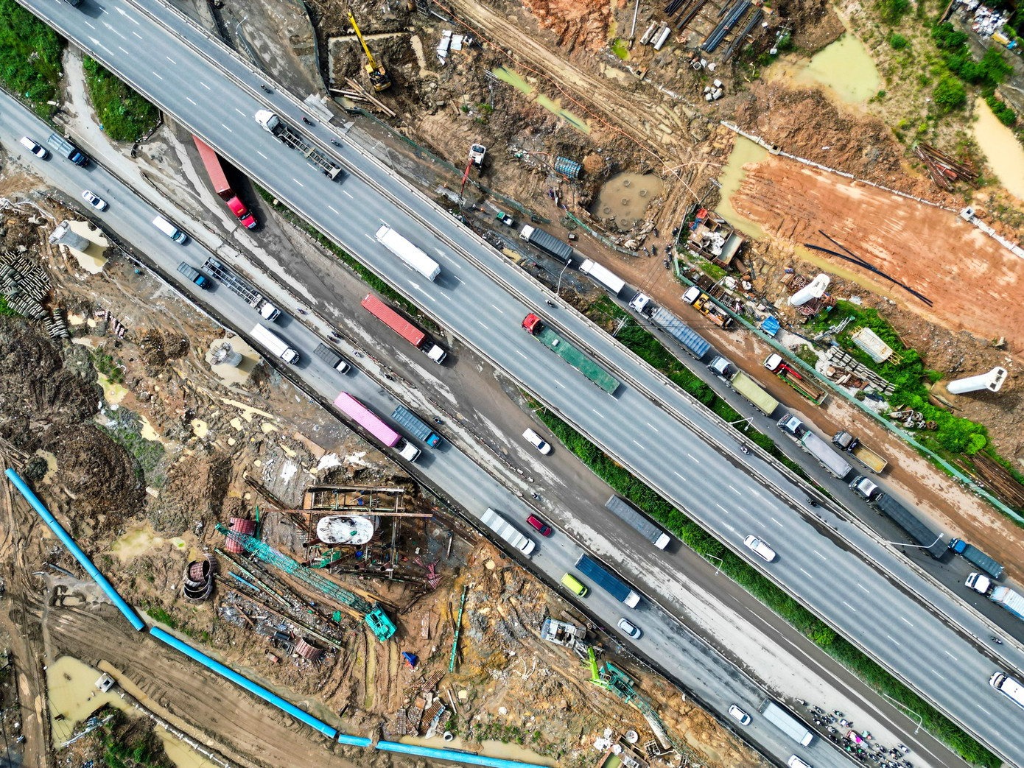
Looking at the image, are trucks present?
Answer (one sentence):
Yes, there's a truck down there.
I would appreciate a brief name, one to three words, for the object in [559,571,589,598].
vehicle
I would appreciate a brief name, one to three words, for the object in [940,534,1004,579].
truck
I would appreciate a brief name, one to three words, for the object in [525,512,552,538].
car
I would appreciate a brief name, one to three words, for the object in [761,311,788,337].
shed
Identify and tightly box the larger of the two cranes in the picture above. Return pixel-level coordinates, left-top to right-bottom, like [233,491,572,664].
[214,523,407,650]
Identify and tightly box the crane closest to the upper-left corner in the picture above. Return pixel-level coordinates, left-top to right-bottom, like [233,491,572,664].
[346,9,394,93]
